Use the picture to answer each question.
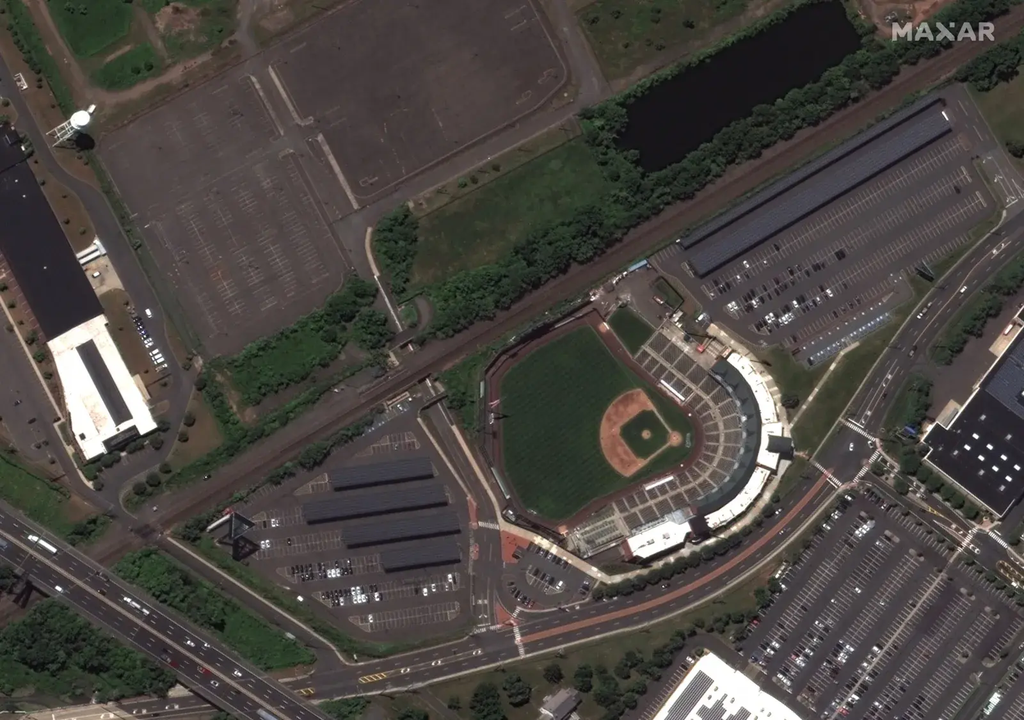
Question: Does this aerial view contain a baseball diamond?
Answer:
Yes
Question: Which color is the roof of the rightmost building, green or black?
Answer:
black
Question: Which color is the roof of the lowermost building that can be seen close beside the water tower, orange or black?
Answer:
black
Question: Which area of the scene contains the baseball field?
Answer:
center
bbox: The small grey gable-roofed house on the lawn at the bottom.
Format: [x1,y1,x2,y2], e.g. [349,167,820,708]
[540,689,580,720]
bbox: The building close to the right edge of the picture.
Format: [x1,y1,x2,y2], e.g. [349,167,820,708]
[916,315,1024,520]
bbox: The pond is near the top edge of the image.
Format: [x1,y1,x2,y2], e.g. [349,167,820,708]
[620,0,857,173]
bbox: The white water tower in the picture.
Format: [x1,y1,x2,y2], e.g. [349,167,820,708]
[46,106,86,147]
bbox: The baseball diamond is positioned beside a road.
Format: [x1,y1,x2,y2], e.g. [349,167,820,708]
[491,310,704,537]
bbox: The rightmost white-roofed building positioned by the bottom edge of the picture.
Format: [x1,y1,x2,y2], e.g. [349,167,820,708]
[649,652,802,720]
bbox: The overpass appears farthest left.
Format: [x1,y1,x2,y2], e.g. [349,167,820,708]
[0,502,337,720]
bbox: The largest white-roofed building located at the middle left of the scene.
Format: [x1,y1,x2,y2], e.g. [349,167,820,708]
[43,313,158,464]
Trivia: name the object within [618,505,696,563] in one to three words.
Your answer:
building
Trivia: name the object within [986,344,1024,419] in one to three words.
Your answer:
solar array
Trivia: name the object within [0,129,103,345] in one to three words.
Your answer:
building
